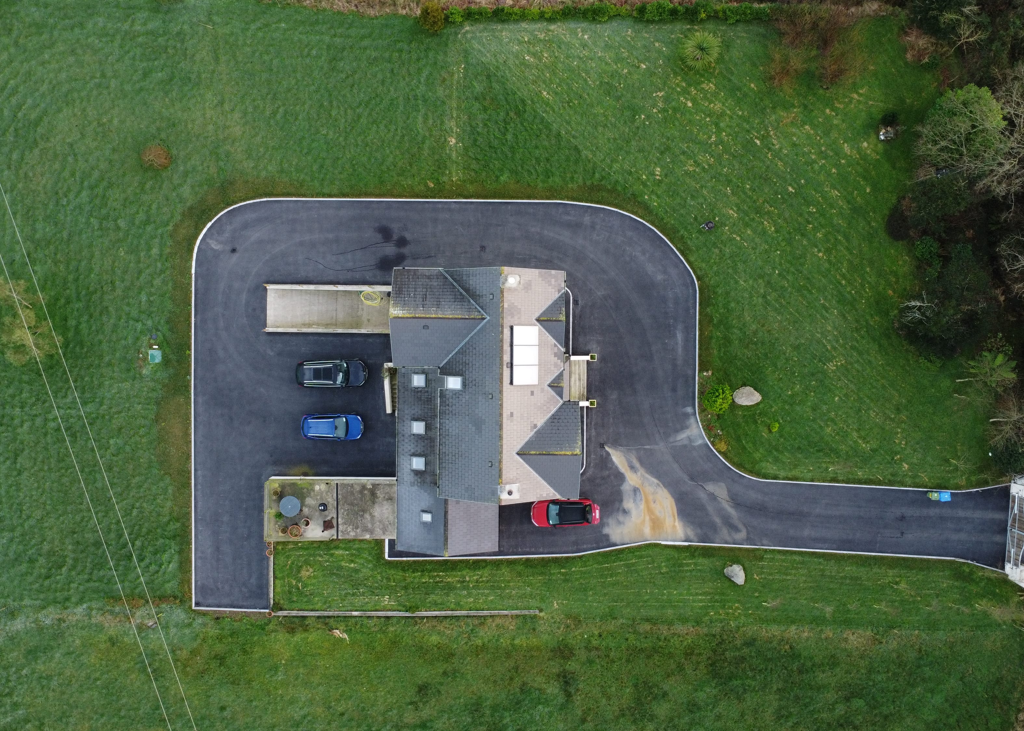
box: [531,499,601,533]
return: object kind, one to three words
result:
car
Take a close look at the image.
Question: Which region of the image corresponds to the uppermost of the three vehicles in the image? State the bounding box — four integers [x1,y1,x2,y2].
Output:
[295,356,367,390]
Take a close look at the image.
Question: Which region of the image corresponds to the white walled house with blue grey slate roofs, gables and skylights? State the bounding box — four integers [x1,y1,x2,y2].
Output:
[388,266,583,558]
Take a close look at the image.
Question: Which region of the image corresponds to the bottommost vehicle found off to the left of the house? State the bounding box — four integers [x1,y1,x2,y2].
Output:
[299,411,363,444]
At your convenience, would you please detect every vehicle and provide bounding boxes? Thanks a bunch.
[299,411,363,444]
[531,499,601,533]
[295,356,367,390]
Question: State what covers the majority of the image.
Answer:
grass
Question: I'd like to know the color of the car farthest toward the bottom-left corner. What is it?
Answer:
blue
